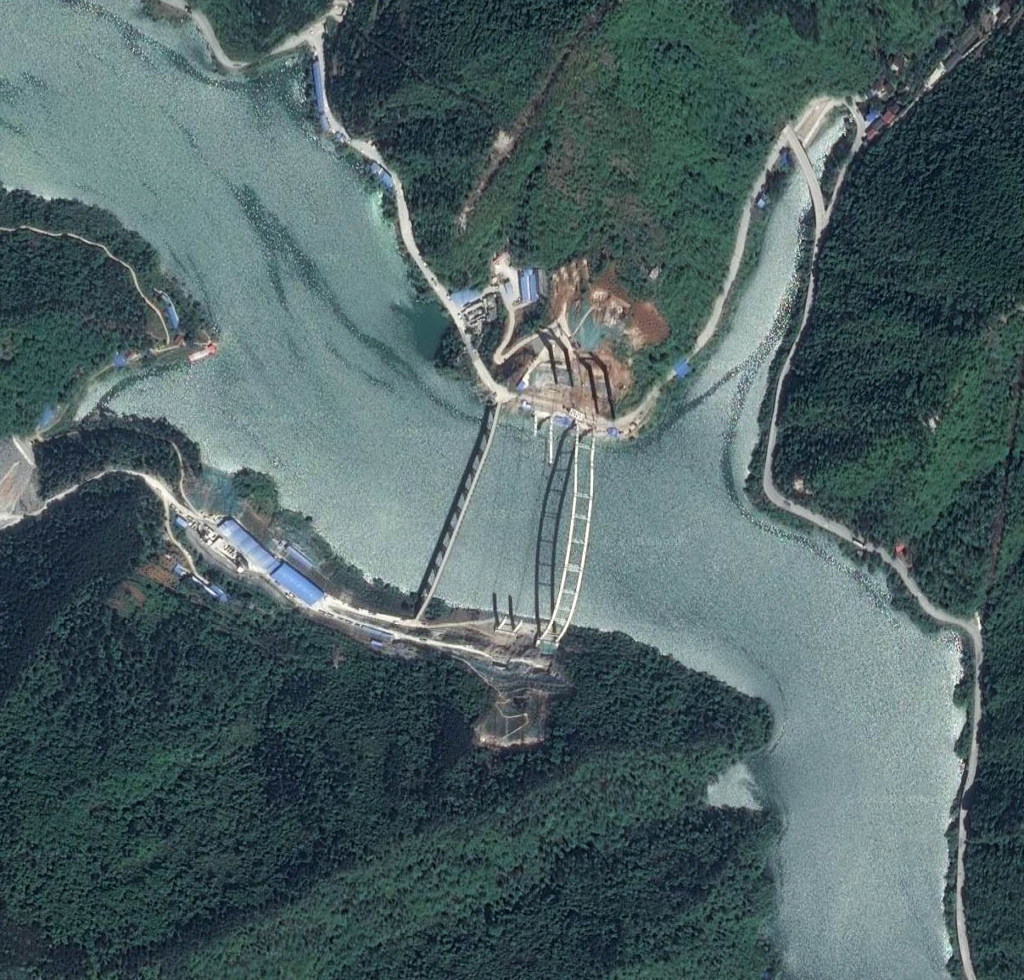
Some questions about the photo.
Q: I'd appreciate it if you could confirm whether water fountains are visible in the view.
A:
No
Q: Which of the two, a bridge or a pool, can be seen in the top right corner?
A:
bridge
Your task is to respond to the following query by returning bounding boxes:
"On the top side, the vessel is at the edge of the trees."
[188,347,214,362]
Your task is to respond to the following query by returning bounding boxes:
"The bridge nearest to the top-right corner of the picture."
[785,124,825,217]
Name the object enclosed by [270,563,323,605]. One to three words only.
building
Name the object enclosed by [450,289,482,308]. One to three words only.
building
